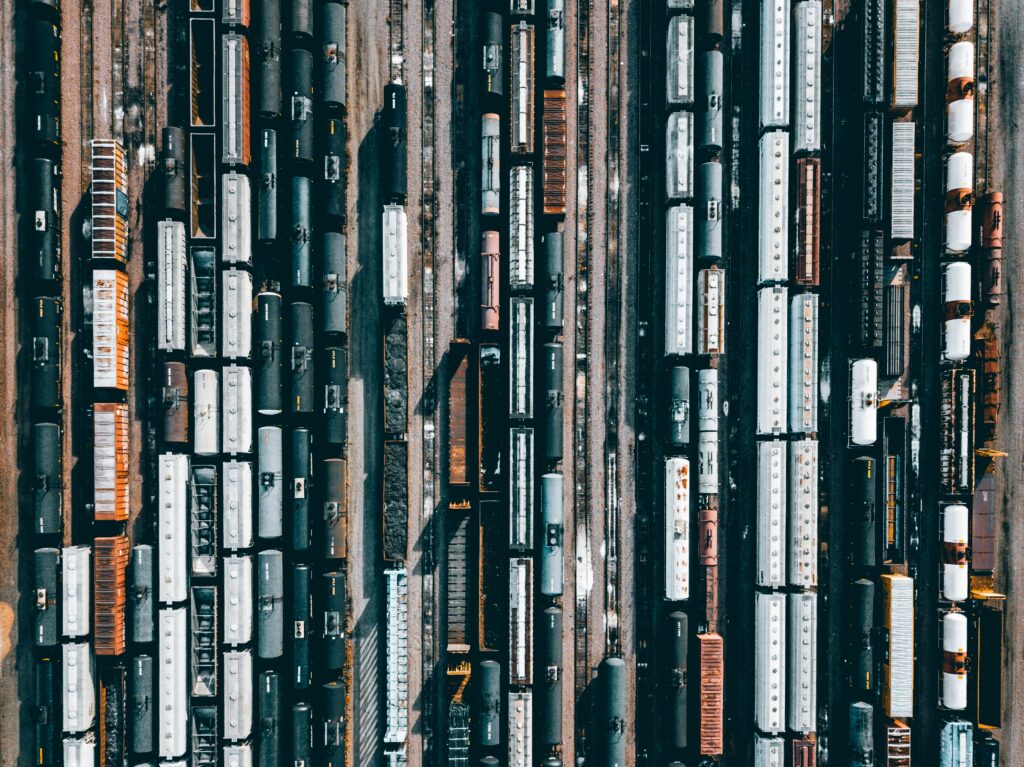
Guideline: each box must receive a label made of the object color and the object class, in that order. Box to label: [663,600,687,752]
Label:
black rail car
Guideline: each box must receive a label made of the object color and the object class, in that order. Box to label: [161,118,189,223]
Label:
gray rail car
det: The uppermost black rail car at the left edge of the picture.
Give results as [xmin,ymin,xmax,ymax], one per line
[31,0,61,21]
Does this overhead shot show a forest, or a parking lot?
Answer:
parking lot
